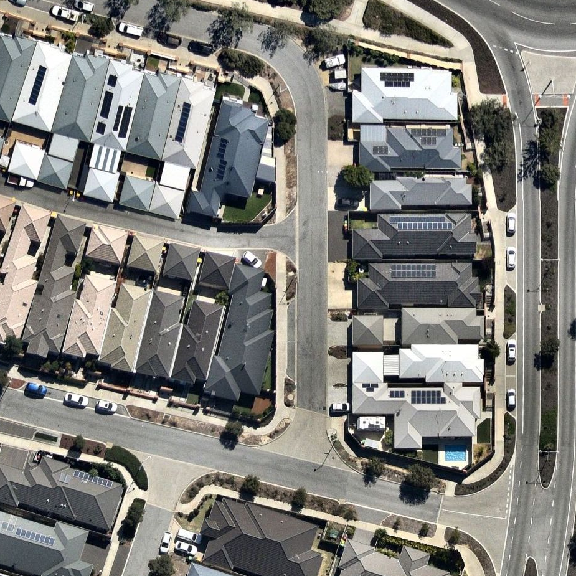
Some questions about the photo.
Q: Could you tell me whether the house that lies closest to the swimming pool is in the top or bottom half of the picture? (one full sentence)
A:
The house that lies closest to the swimming pool sits in the bottom half of the picture.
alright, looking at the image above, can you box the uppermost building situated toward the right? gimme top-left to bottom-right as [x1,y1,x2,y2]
[353,68,457,123]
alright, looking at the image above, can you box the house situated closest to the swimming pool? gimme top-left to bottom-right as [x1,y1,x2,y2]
[353,382,480,447]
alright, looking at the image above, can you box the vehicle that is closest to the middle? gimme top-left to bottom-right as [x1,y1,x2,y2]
[241,249,262,268]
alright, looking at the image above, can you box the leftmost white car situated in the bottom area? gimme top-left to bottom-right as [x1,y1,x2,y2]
[63,394,86,407]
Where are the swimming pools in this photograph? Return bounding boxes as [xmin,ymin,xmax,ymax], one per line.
[443,444,469,462]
